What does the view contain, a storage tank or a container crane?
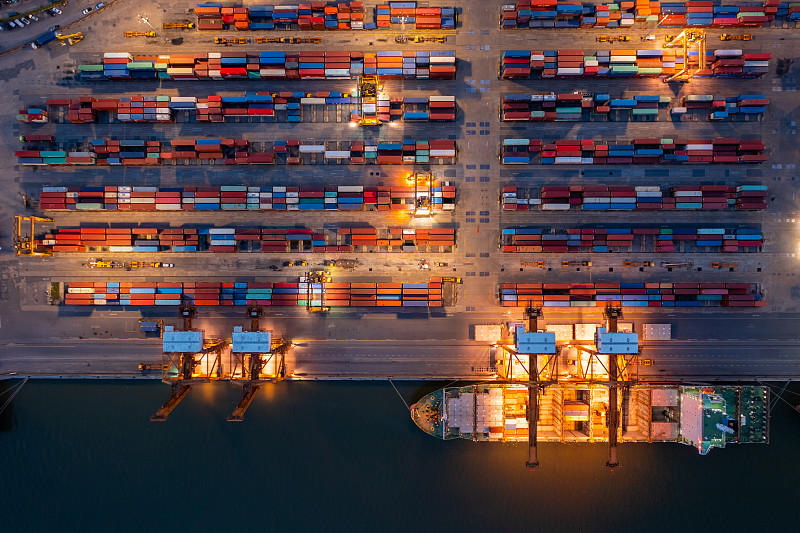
container crane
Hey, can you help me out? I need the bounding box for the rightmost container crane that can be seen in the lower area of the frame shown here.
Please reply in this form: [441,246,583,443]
[569,299,642,472]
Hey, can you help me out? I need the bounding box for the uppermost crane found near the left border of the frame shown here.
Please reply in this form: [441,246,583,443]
[15,214,62,256]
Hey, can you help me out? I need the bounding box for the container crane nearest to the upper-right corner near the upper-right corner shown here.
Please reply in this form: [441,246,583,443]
[662,30,704,82]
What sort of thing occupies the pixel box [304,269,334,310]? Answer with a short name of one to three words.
container crane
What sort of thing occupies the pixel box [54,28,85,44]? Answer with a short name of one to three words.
work vehicle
